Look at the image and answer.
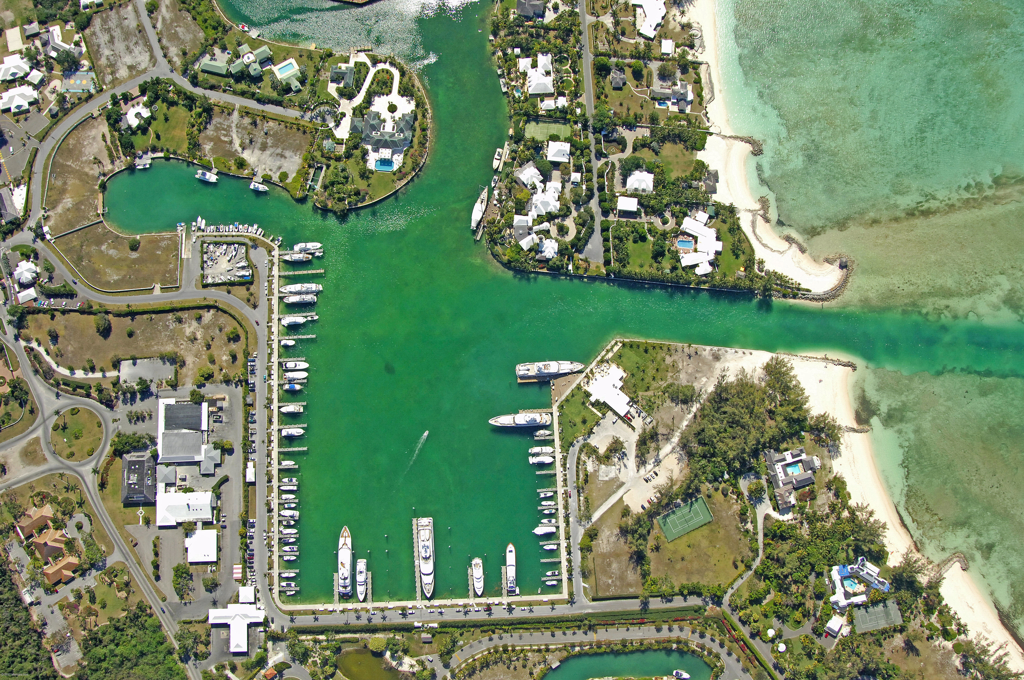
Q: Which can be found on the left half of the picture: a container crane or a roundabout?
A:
roundabout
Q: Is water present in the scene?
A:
Yes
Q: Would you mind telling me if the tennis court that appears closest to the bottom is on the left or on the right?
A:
right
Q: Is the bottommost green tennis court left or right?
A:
right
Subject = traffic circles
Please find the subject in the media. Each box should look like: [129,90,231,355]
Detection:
[42,399,112,470]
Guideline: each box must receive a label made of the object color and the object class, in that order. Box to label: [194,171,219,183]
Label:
white boat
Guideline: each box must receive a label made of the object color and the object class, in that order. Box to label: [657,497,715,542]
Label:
green tennis court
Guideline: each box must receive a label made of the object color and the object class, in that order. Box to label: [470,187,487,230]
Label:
white boat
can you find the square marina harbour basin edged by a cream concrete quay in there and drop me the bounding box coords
[192,231,616,610]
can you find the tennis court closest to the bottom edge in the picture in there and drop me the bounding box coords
[852,601,904,631]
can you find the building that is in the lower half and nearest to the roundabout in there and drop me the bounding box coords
[121,453,157,503]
